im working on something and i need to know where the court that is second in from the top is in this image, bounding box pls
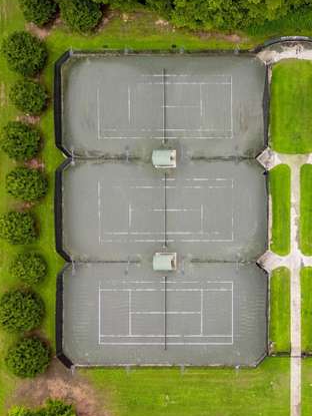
[63,157,268,262]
